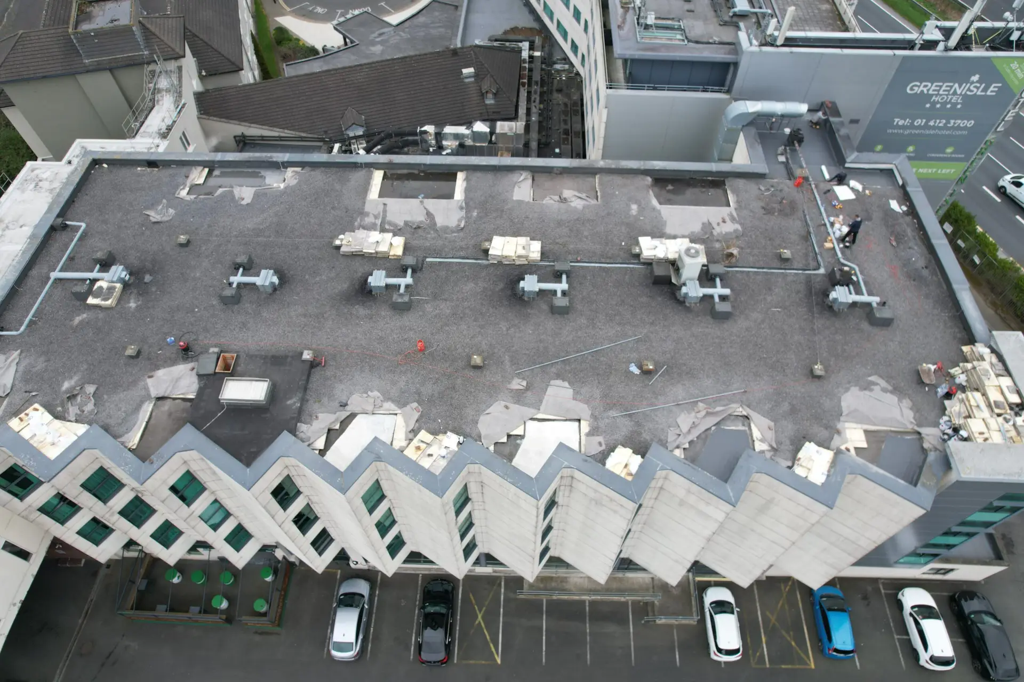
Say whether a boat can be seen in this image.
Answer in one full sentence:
No, I can see no boat in this picture.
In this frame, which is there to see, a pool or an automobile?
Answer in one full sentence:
This aerial view contains an automobile.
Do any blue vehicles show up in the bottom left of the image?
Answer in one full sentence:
No, there is no blue vehicle in the bottom left of the image.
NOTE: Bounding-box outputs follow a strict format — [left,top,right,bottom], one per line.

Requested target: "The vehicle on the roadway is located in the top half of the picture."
[997,176,1024,214]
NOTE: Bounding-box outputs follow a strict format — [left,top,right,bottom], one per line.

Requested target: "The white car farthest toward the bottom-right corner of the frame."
[894,589,956,675]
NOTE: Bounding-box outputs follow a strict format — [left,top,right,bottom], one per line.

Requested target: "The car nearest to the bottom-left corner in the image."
[327,579,373,668]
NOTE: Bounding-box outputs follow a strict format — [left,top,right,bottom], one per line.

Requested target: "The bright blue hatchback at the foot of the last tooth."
[807,586,854,665]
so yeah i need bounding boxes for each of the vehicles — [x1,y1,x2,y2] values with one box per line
[700,586,742,668]
[417,579,456,671]
[807,586,854,665]
[894,589,956,675]
[997,176,1024,214]
[950,592,1024,682]
[327,579,373,668]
